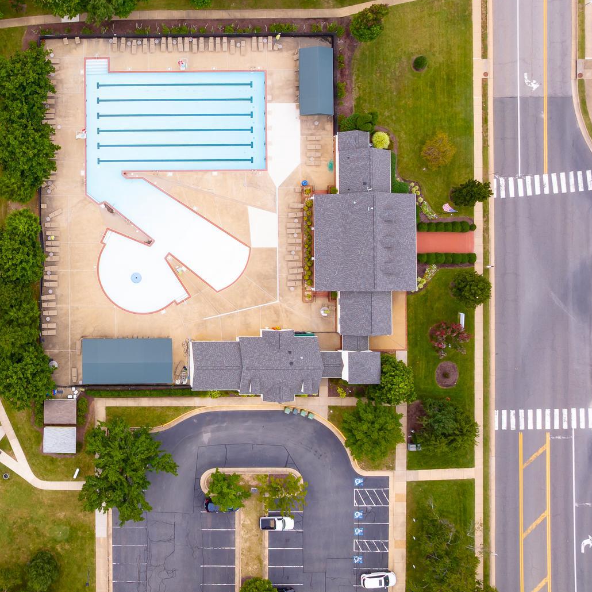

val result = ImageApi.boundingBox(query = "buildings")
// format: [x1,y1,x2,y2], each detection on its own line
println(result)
[44,425,76,453]
[82,338,172,385]
[191,331,345,402]
[309,131,417,352]
[44,398,76,424]
[297,46,335,115]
